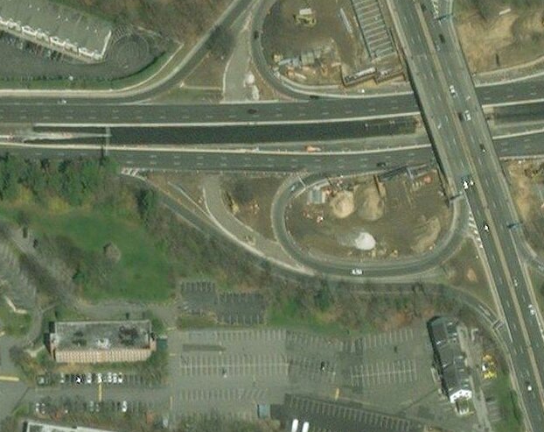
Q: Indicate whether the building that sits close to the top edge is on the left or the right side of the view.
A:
left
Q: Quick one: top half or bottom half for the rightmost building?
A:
bottom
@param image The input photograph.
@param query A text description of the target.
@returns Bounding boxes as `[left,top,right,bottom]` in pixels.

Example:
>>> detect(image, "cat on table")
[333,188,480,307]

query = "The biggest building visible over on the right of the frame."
[427,318,473,416]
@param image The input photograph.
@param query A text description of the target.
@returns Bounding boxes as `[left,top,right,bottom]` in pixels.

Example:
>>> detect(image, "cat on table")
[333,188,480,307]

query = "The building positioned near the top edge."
[0,0,115,67]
